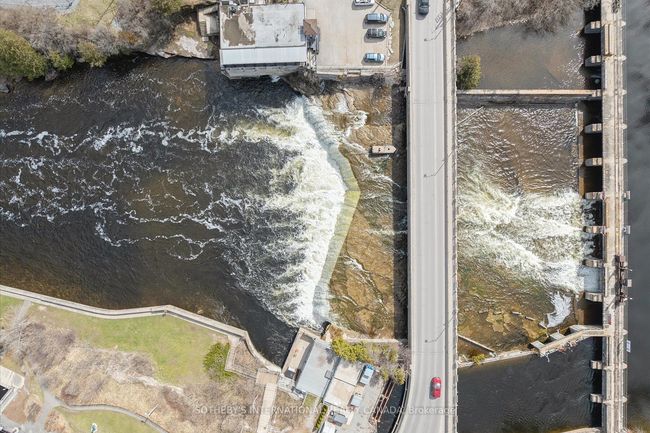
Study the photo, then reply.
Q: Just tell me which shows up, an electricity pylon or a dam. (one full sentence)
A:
This aerial view contains a dam.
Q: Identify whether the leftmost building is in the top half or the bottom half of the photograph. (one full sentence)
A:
It is in the bottom half that the leftmost building appears.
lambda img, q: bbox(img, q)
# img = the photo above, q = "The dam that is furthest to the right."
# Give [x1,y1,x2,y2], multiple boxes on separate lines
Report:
[575,0,633,433]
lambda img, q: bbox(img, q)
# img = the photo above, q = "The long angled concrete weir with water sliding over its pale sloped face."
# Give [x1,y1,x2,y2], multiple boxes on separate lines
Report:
[303,96,361,329]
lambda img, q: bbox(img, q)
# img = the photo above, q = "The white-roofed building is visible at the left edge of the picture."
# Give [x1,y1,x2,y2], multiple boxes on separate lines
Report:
[0,357,32,413]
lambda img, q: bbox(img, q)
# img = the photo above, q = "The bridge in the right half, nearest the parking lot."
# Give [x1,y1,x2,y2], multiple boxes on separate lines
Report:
[388,0,460,433]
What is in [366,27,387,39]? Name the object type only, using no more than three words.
vehicle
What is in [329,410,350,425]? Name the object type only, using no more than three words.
car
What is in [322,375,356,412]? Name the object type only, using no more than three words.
building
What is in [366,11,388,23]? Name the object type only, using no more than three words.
vehicle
